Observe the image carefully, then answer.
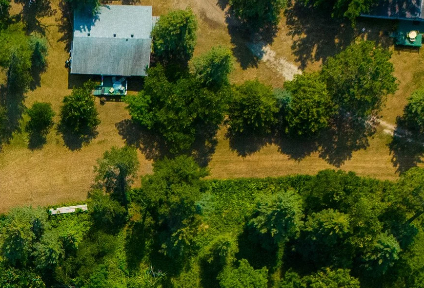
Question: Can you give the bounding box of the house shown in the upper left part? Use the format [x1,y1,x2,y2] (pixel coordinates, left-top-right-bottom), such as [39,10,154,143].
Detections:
[69,5,161,95]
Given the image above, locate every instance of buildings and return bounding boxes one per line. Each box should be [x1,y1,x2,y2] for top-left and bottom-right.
[69,5,161,95]
[351,0,424,48]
